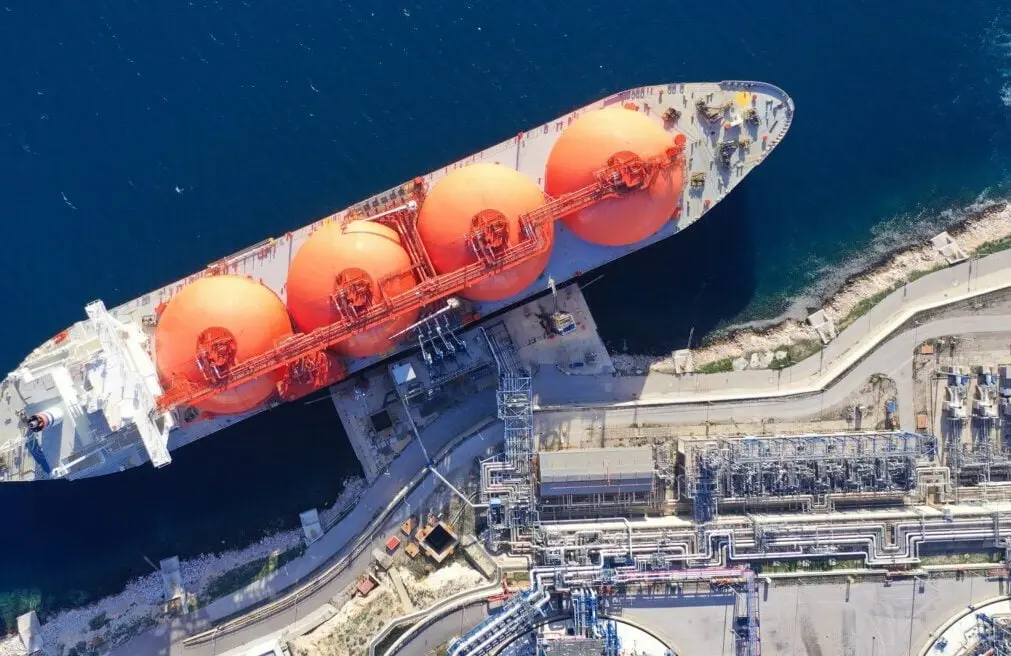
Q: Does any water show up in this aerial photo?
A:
Yes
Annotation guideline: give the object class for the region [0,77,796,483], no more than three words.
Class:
ship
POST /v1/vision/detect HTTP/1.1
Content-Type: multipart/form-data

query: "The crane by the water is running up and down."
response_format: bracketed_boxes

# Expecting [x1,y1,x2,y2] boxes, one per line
[550,279,573,335]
